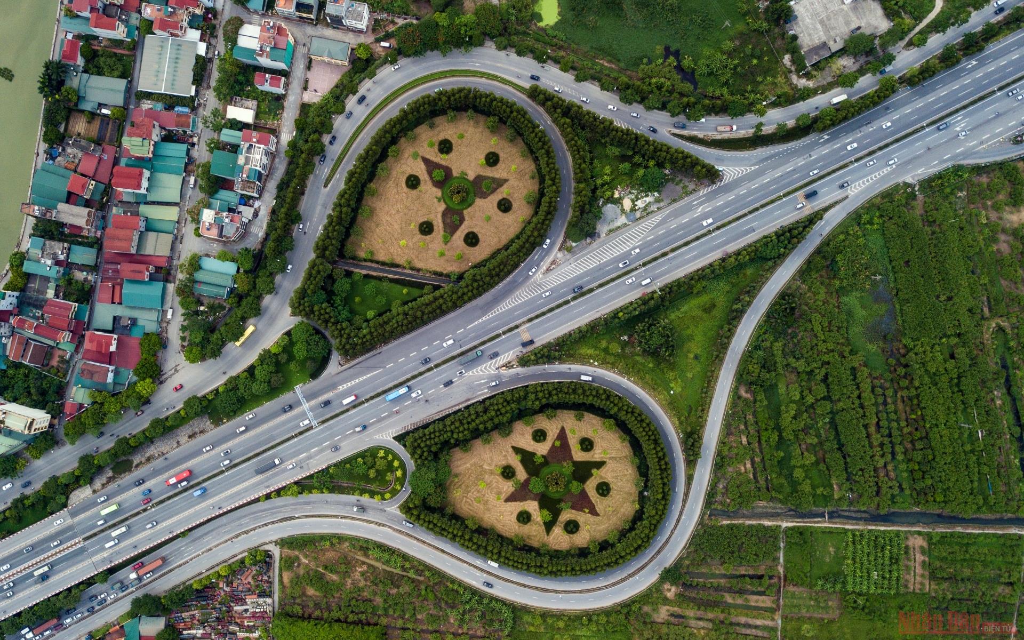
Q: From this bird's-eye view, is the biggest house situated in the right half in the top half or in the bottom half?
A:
top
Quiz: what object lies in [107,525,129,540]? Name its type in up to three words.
vehicle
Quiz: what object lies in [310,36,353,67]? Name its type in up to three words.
building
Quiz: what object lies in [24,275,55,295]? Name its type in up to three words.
house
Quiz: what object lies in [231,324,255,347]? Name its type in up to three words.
bus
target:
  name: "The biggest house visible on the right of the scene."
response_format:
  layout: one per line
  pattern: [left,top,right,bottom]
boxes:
[801,42,831,66]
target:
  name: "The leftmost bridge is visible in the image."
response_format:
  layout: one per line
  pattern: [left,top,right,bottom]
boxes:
[0,509,96,619]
